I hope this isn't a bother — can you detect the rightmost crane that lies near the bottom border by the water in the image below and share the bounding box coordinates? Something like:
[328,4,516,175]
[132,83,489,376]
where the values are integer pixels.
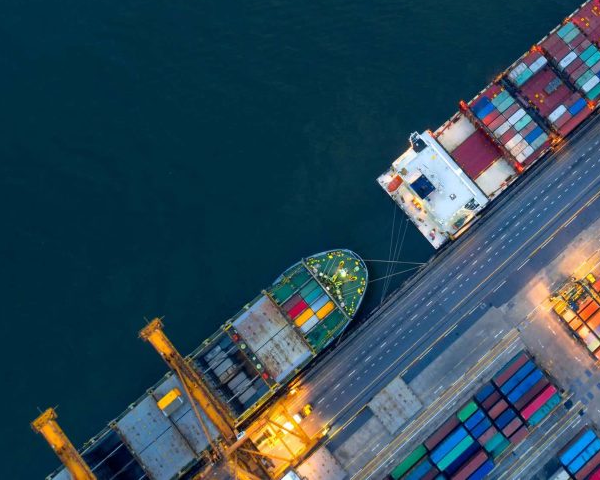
[130,314,335,480]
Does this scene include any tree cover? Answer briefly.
No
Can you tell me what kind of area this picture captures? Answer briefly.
port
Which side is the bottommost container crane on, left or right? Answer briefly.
left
